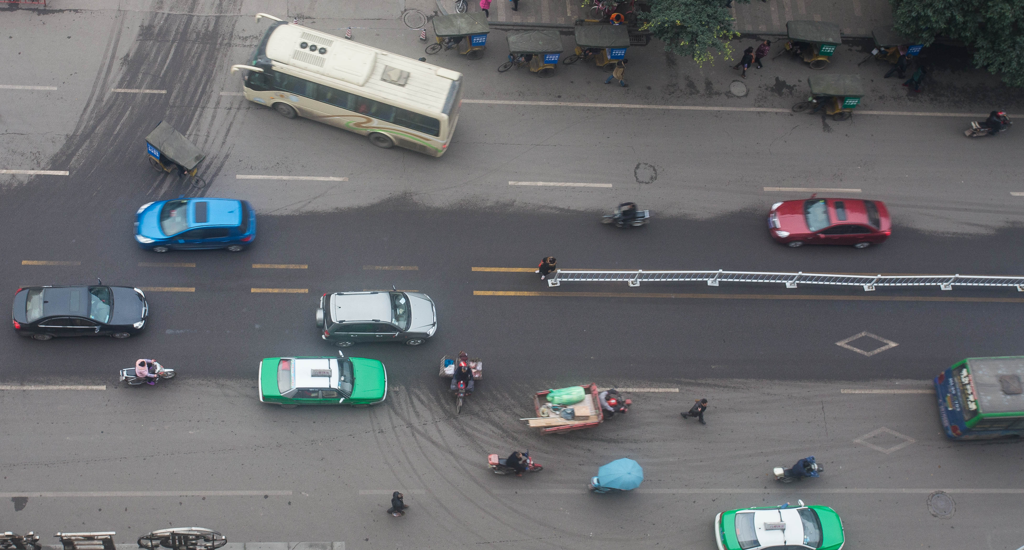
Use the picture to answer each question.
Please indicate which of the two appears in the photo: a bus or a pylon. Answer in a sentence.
Of the two, only a bus appears.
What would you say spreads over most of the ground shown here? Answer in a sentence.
The scene is dominated by paved ground.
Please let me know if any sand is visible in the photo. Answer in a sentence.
No, there is no sand in the image.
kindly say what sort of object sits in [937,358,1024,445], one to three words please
bus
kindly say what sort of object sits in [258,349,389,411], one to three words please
car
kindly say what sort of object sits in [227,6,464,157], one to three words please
bus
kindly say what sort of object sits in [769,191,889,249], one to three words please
car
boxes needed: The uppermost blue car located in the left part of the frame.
[136,190,255,252]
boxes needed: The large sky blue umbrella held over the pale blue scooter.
[598,457,645,493]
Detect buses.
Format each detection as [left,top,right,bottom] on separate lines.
[227,6,464,157]
[937,358,1024,445]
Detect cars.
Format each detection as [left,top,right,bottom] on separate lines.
[315,286,439,350]
[258,349,389,411]
[713,500,841,550]
[12,277,152,341]
[136,190,255,252]
[769,191,889,249]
